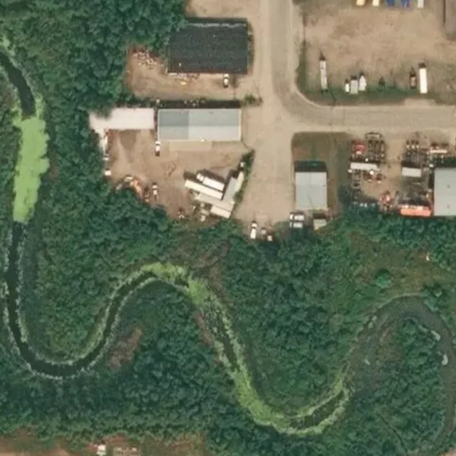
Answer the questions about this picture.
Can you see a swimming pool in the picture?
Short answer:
No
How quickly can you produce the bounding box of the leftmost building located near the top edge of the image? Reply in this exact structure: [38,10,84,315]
[167,21,248,73]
